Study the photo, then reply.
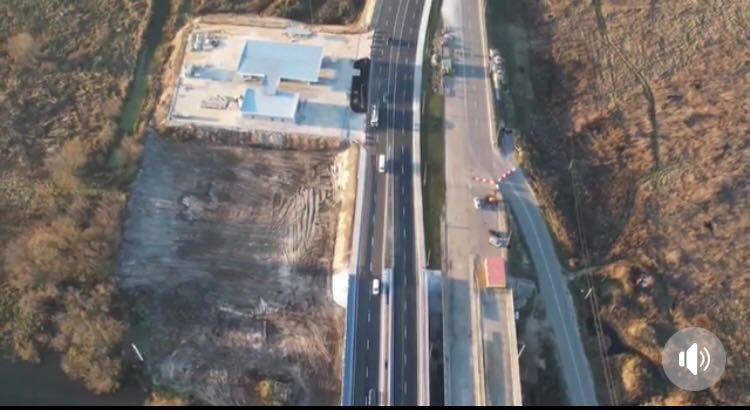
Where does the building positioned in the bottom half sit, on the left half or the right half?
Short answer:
right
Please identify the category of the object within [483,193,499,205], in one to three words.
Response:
vehicle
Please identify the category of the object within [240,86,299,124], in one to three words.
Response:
building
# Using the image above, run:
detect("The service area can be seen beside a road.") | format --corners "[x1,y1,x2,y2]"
[168,29,371,142]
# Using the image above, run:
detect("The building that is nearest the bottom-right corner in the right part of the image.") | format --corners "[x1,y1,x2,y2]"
[480,259,506,291]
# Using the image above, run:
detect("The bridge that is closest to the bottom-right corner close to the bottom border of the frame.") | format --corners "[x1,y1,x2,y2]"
[439,283,521,410]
